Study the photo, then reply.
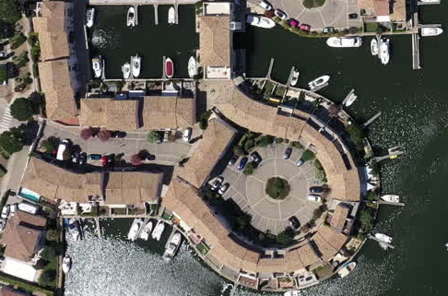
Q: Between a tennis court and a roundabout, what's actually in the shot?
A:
roundabout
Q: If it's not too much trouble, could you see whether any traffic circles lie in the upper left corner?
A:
No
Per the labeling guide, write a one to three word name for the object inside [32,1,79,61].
house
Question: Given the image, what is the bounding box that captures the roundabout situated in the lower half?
[231,144,320,232]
